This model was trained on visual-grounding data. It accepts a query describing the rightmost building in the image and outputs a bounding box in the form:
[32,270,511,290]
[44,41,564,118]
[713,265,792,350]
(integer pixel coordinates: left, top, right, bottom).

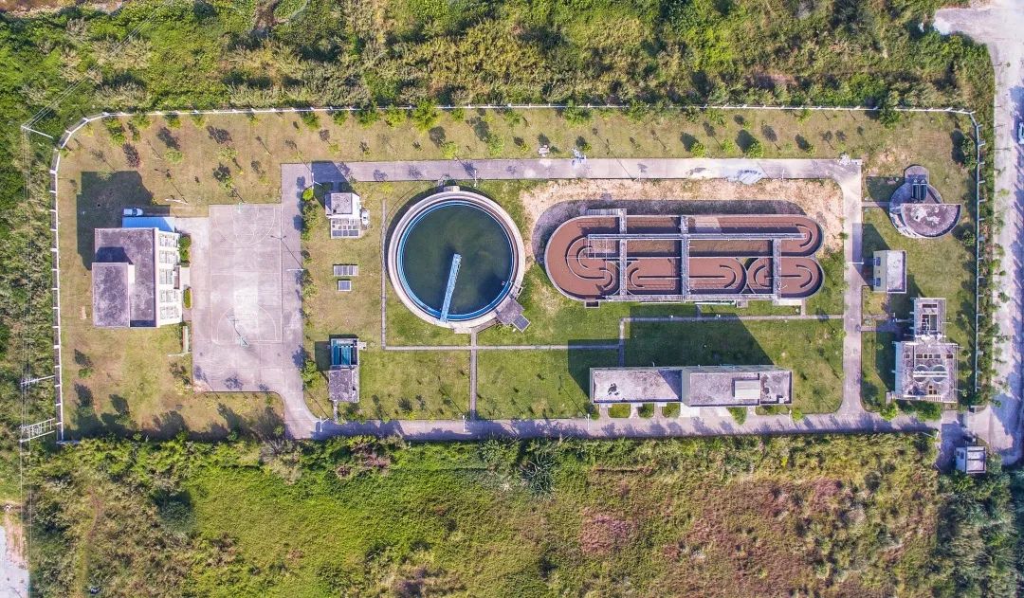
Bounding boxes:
[955,443,987,473]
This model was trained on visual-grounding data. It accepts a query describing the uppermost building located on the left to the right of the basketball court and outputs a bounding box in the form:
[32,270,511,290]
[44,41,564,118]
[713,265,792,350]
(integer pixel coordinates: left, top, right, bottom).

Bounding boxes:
[325,193,361,218]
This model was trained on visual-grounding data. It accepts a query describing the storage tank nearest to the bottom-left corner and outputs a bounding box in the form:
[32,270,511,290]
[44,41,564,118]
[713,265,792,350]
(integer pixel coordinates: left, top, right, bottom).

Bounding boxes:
[330,338,367,369]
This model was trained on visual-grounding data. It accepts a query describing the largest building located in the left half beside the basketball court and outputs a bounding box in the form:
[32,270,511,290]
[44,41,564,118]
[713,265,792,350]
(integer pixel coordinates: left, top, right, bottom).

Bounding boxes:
[92,228,190,328]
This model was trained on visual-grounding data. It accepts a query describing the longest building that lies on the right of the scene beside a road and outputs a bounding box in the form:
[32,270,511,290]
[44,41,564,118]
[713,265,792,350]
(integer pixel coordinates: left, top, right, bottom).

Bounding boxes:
[590,365,796,406]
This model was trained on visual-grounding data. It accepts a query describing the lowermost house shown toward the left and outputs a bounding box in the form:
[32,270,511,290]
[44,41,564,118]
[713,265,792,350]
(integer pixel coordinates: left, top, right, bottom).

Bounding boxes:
[329,368,361,402]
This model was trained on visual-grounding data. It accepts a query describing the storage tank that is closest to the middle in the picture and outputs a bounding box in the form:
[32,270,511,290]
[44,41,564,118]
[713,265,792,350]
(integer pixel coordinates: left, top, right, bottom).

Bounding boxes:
[388,179,526,333]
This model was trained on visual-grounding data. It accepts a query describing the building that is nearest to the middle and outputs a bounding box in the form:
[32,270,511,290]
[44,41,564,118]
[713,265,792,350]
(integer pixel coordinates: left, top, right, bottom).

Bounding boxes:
[472,286,526,336]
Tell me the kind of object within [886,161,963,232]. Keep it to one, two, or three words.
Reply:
building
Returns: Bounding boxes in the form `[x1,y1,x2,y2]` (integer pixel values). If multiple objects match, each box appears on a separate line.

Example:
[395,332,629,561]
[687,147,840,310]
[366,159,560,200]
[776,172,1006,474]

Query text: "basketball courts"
[192,205,282,391]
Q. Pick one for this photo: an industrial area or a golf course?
industrial area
